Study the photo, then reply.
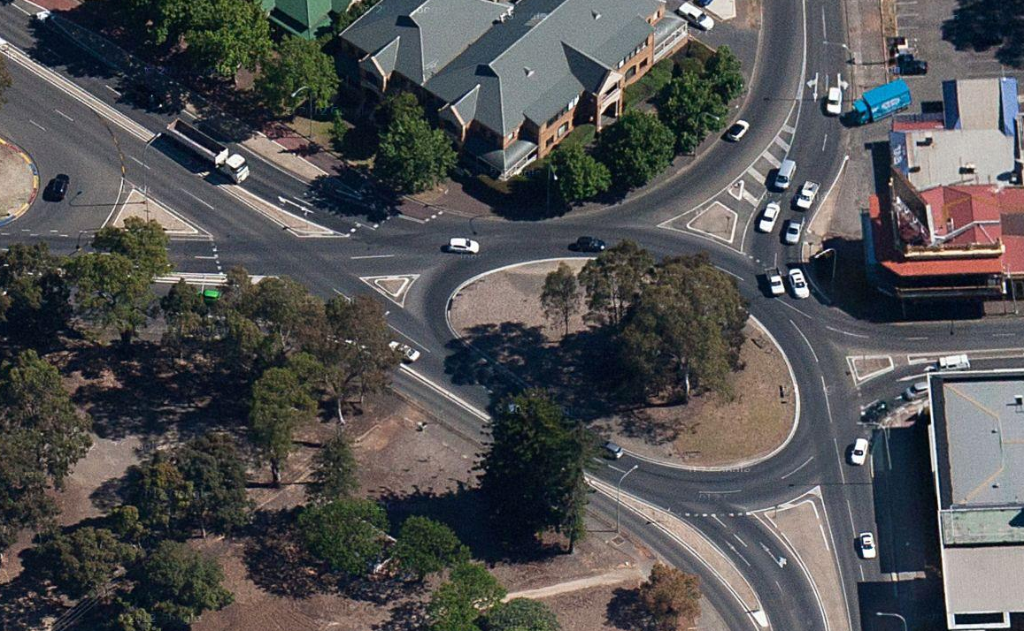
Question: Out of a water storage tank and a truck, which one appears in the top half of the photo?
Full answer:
Looking in the top half of the photo, you will find a truck.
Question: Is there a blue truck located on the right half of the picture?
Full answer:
Yes, the scene does show a blue truck on the right half of the picture.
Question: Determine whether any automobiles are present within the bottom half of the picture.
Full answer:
Yes, within the bottom half of the picture there is an automobile.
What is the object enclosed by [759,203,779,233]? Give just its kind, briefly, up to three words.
car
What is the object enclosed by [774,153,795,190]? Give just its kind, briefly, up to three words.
vehicle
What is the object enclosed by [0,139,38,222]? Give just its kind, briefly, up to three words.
roundabout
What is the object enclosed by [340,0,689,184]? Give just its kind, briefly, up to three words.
building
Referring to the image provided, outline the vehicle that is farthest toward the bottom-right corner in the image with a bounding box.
[858,531,877,562]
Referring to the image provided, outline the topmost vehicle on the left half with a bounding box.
[27,0,57,26]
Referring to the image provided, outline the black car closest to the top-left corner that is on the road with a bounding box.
[50,173,69,202]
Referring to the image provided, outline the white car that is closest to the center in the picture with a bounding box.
[446,237,480,255]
